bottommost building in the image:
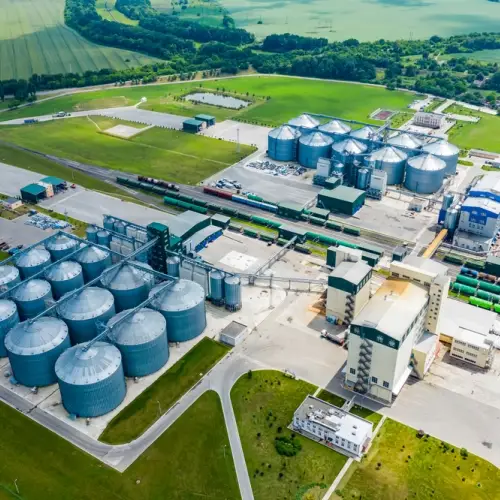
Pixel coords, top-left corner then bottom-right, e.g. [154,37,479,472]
[287,390,377,459]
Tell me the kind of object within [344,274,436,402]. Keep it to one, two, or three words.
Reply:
building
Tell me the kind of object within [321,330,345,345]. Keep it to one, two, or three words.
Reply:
vehicle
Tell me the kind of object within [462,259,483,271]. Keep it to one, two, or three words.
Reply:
rail car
